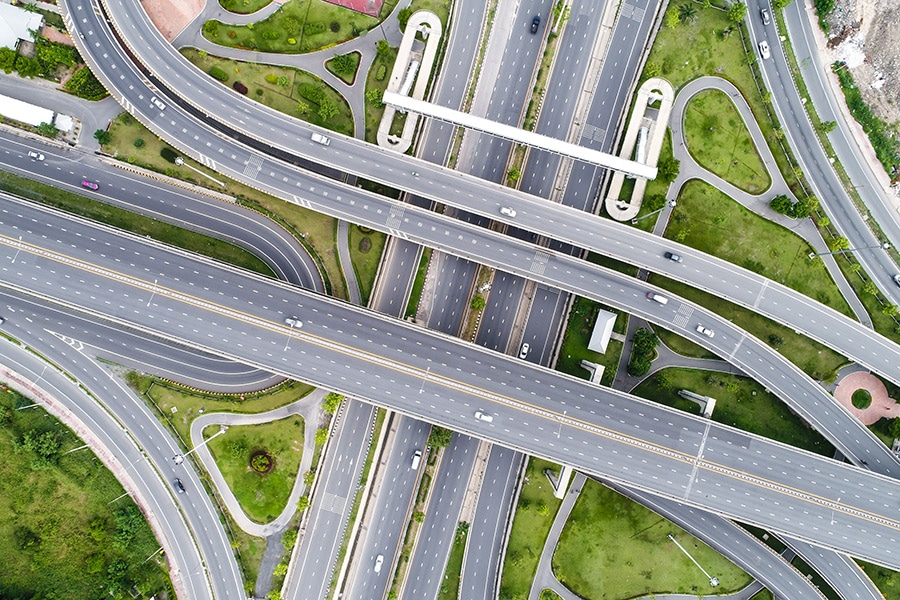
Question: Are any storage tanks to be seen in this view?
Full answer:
No, there is no storage tank in the image.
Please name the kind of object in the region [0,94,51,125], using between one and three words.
shed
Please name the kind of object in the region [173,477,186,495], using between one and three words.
vehicle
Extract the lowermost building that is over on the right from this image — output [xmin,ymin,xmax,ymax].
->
[593,309,624,353]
